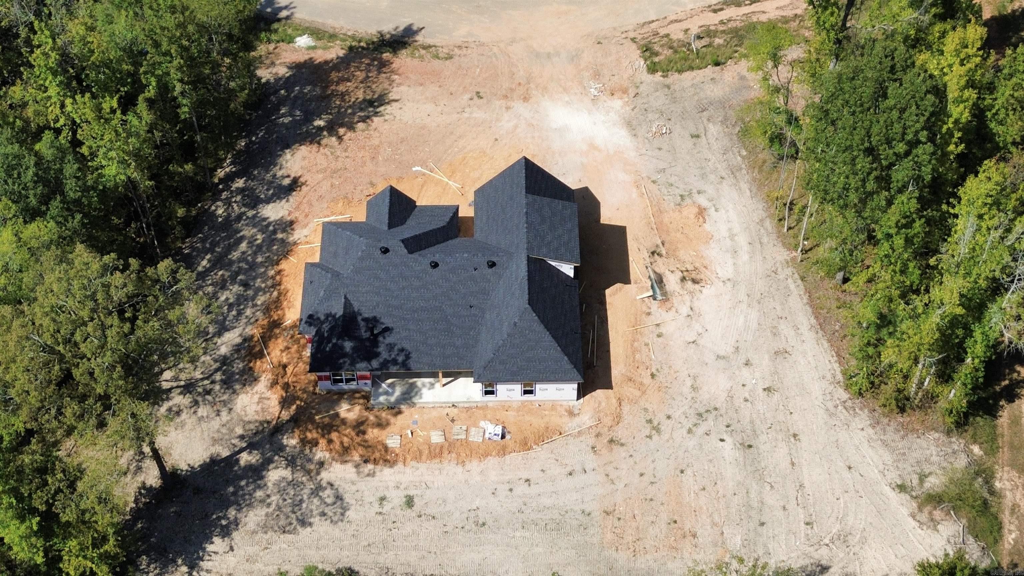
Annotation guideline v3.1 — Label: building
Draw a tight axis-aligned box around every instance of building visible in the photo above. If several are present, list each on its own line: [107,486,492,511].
[297,155,585,406]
